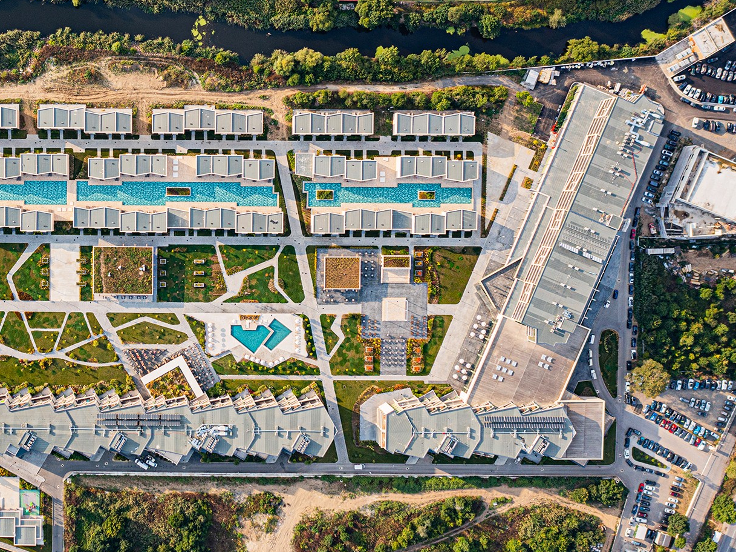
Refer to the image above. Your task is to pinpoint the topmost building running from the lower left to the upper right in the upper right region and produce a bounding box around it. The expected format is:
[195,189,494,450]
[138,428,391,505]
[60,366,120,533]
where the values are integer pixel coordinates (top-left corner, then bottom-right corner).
[649,18,735,80]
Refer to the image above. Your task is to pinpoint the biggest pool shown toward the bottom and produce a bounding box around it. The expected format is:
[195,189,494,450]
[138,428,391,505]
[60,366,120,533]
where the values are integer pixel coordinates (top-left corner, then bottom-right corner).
[230,325,271,353]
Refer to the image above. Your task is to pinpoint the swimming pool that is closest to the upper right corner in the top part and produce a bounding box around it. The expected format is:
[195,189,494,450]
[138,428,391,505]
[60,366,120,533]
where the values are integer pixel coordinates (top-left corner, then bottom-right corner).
[303,182,473,208]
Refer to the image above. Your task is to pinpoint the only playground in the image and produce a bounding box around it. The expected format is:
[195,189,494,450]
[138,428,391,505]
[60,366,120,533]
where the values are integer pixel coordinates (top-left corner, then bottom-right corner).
[19,490,40,516]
